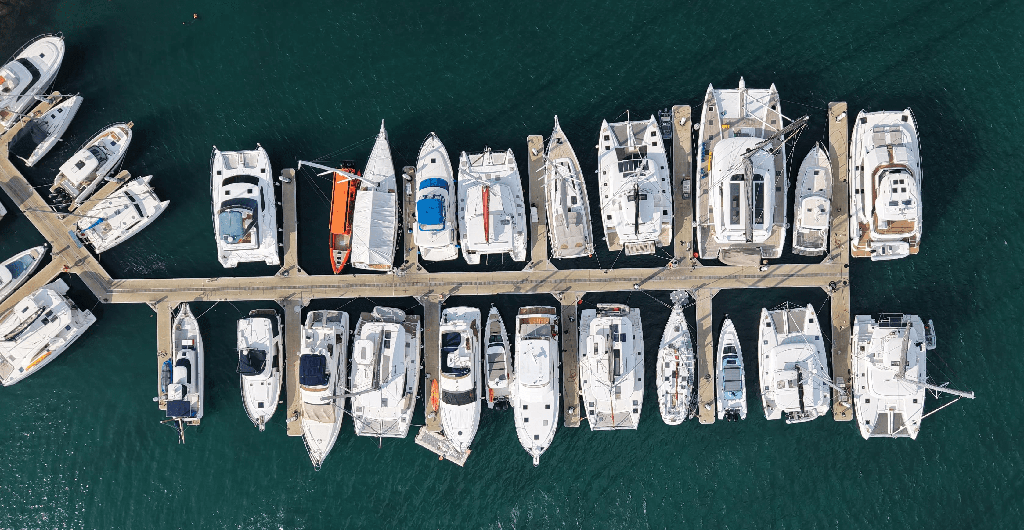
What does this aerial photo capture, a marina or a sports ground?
marina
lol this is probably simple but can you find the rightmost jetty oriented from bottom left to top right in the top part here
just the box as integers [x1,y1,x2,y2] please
[63,170,132,230]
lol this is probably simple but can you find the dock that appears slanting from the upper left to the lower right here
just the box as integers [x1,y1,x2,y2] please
[0,148,115,303]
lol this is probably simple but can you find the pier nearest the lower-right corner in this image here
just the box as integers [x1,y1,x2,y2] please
[820,287,852,421]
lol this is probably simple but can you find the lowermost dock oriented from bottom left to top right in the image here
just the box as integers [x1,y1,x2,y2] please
[0,247,76,317]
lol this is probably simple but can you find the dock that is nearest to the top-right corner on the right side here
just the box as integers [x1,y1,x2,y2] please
[820,102,850,286]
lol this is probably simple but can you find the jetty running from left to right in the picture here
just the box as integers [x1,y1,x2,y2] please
[102,263,848,303]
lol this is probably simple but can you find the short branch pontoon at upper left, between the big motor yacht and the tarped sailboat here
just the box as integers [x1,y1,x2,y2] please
[0,91,64,158]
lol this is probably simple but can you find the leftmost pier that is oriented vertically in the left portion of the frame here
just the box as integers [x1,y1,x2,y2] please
[146,301,182,410]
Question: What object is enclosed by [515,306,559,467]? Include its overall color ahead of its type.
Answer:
white boat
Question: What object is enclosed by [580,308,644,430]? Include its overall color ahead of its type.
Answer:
white boat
